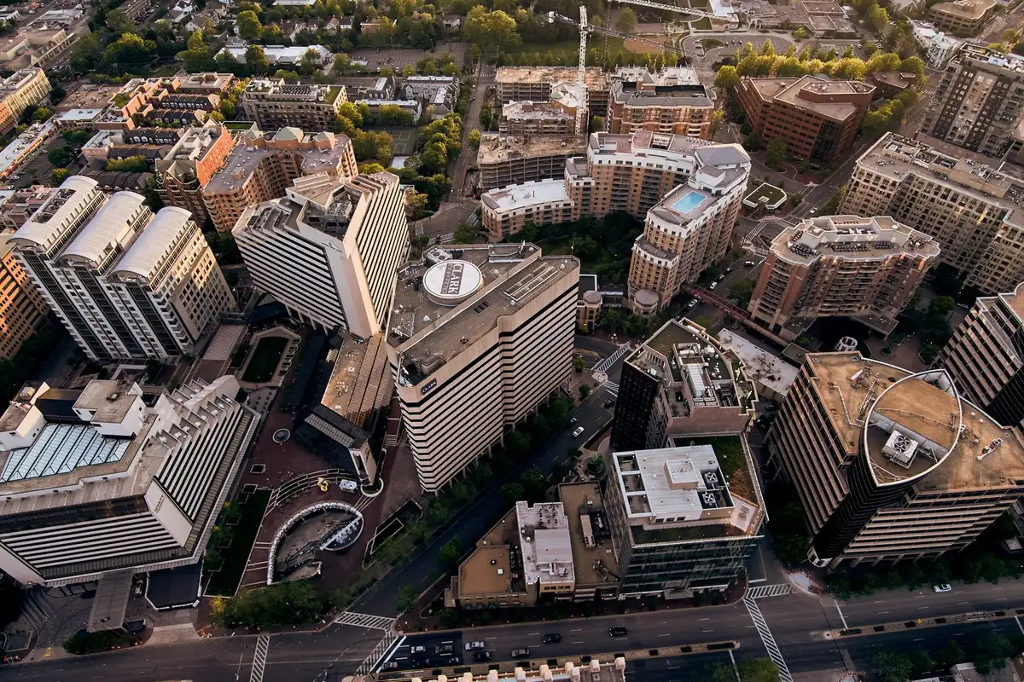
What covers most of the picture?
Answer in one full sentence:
The scene is dominated by buildings.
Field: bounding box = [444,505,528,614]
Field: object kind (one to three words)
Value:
building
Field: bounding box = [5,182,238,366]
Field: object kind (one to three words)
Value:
building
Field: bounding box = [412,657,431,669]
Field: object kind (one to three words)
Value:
vehicle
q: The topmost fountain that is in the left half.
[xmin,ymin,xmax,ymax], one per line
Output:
[270,426,293,445]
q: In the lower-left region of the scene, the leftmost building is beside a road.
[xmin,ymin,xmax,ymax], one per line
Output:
[0,378,261,633]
